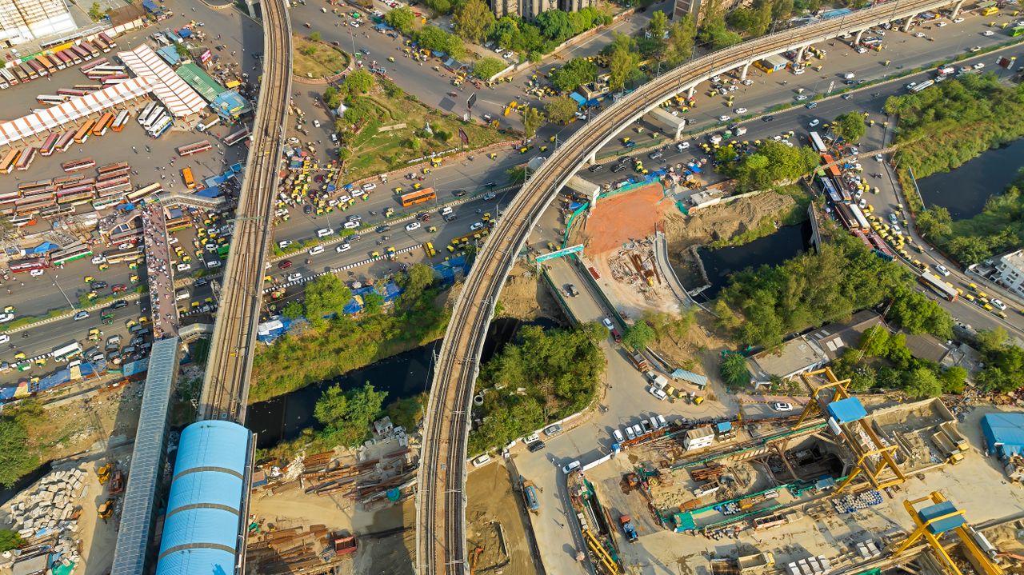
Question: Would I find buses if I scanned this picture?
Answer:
Yes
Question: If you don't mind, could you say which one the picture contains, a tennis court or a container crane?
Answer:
container crane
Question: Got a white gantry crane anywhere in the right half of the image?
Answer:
No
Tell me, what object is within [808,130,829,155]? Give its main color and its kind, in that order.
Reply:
white bus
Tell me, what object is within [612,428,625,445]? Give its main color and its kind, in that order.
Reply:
white vehicle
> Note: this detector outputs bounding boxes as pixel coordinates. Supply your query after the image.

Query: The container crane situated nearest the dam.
[789,365,912,495]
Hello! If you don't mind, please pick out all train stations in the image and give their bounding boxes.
[152,419,267,575]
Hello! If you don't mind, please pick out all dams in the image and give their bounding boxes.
[690,247,716,299]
